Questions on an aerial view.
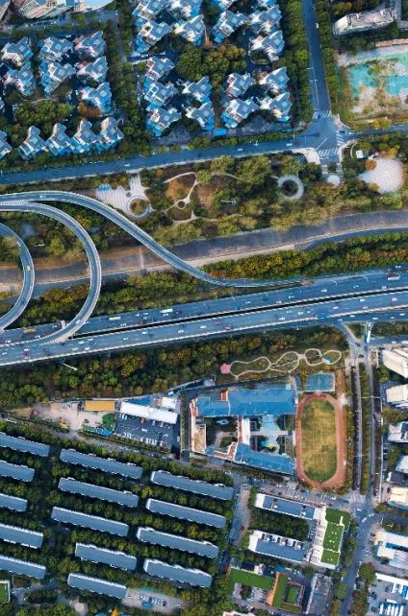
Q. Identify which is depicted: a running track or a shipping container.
running track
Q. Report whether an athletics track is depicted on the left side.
No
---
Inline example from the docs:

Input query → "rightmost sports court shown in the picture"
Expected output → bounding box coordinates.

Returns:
[307,374,335,392]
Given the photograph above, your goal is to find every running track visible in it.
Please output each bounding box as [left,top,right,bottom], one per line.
[296,393,344,488]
